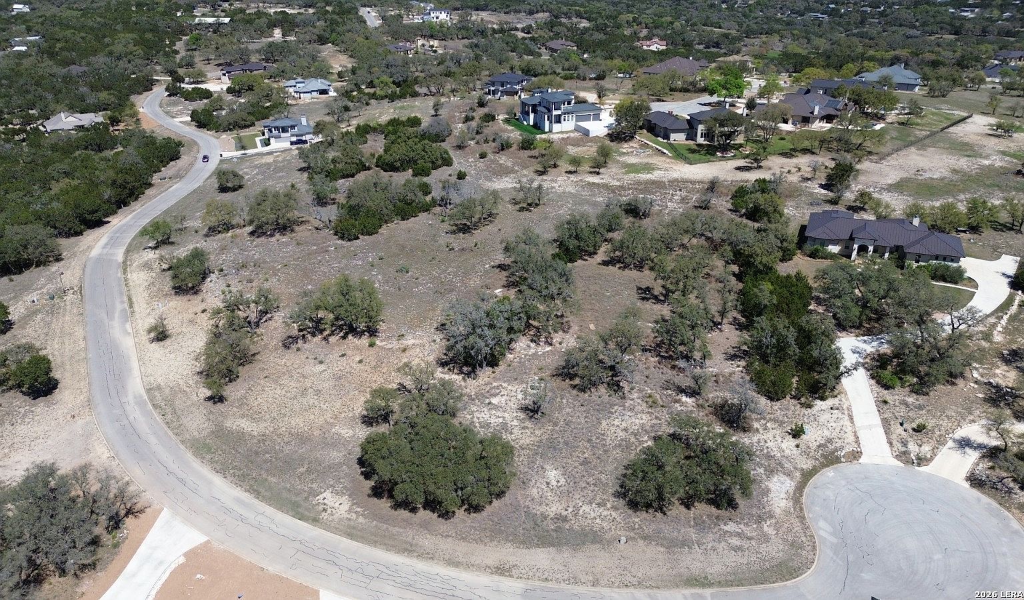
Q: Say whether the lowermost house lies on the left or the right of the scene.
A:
right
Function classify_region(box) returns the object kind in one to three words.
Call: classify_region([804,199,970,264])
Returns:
house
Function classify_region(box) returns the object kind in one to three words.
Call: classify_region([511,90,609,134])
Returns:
house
